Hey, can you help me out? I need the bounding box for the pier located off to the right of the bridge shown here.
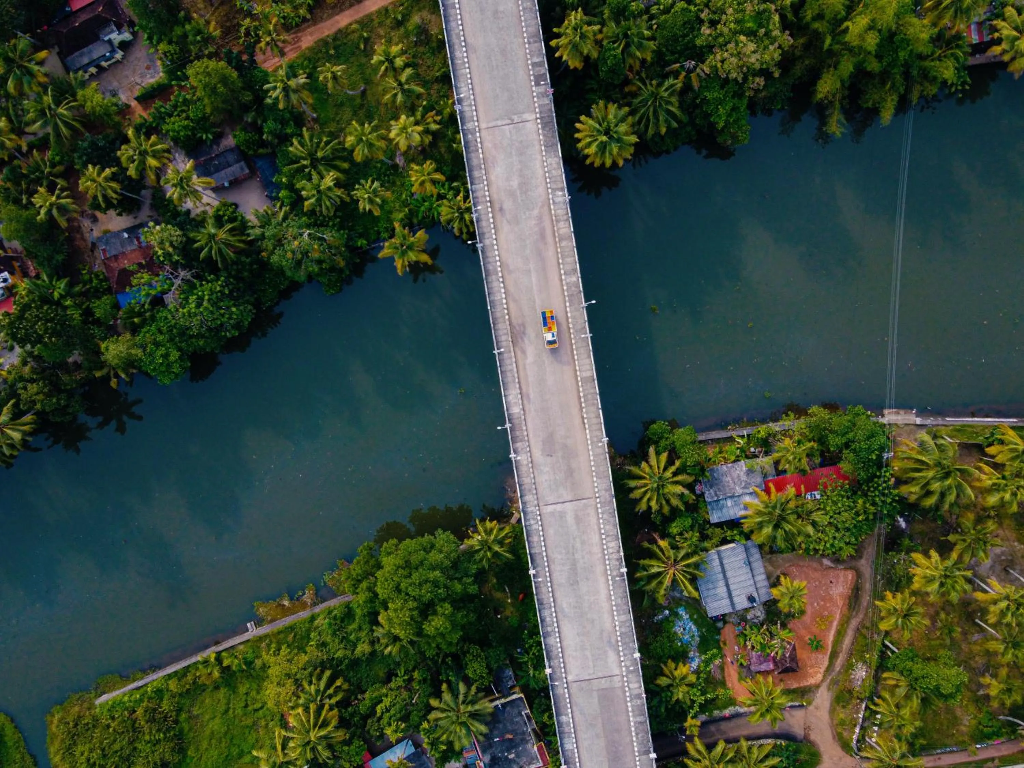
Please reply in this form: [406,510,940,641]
[879,406,916,424]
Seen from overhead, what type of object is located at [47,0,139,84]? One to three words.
house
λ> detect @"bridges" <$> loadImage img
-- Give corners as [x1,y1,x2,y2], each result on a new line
[438,0,656,768]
